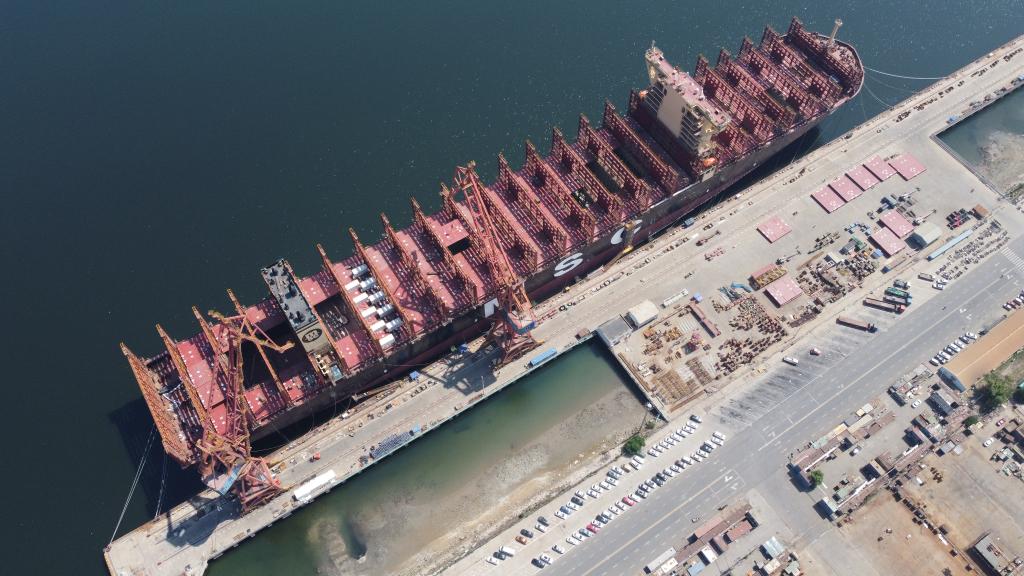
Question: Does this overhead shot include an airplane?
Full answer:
No, the photo shows no airplane.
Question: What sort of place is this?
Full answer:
It's a port.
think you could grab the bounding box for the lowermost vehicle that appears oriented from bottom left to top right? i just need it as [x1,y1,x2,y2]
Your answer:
[636,546,679,576]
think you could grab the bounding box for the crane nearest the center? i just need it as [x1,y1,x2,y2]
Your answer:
[438,162,543,367]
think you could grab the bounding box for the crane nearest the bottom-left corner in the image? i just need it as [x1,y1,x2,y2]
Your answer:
[191,306,304,519]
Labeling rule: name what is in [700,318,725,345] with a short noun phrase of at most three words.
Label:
shipping container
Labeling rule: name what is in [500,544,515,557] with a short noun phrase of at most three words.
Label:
vehicle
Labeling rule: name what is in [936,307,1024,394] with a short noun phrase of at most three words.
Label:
hangar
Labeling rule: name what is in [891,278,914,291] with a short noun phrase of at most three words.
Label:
vehicle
